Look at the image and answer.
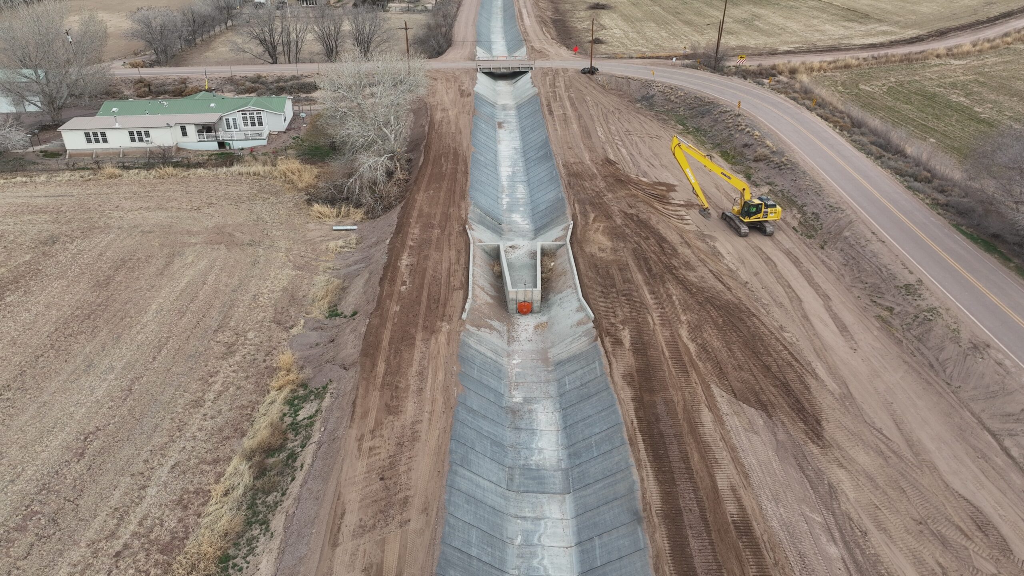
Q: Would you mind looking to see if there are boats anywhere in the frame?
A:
No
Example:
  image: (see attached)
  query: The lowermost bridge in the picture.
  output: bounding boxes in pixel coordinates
[467,57,542,76]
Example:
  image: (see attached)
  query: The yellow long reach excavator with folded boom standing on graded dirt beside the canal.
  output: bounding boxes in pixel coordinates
[669,134,783,237]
